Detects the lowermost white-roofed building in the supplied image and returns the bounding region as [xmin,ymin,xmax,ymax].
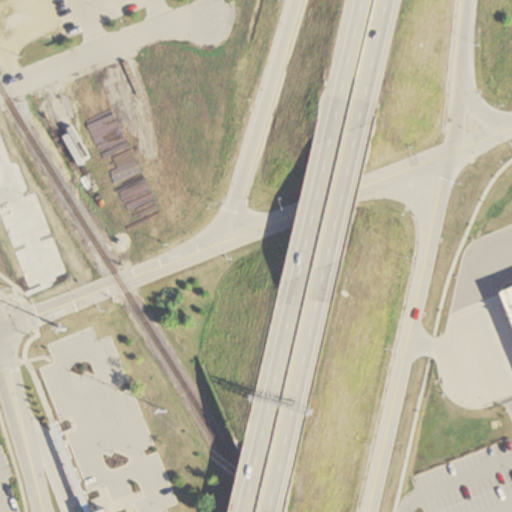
[50,418,86,502]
